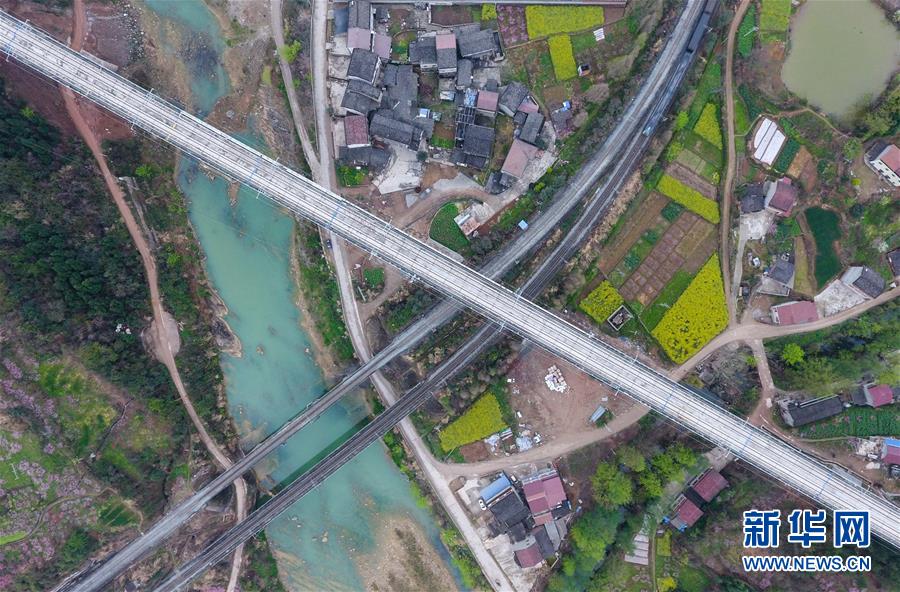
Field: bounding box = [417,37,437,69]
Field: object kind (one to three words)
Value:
house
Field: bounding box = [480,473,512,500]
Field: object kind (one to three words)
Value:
building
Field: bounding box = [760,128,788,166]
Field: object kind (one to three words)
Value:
greenhouse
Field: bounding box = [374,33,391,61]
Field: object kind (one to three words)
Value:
shed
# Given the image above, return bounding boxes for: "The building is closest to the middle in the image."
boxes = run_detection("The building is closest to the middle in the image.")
[454,206,481,235]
